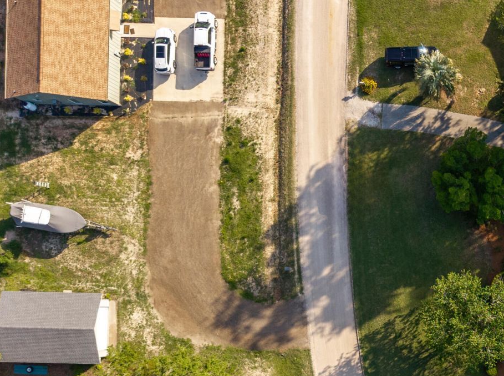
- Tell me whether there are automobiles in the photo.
Yes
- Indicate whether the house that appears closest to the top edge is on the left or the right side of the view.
left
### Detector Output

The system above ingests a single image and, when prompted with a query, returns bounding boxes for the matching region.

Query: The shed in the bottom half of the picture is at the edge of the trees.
[0,290,110,364]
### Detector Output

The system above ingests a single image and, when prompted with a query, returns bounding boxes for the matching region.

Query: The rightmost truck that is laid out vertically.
[193,11,220,76]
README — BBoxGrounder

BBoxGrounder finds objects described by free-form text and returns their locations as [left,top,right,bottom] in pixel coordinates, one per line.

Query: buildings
[0,290,110,364]
[5,0,130,106]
